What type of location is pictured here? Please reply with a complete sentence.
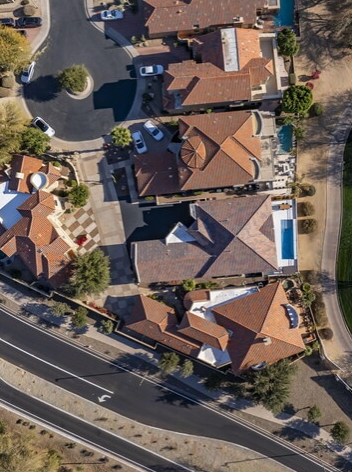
What you see here is a residential area.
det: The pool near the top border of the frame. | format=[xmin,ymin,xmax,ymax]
[277,0,296,27]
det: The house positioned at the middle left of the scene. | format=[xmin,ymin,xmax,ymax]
[0,155,83,287]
